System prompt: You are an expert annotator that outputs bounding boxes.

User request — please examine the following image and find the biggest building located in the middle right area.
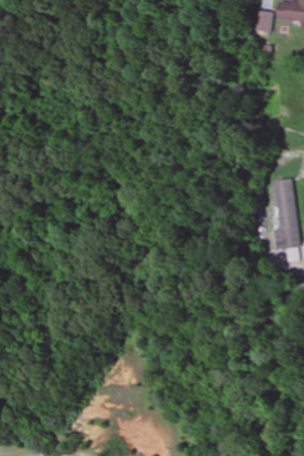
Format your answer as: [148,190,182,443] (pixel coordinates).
[272,178,298,246]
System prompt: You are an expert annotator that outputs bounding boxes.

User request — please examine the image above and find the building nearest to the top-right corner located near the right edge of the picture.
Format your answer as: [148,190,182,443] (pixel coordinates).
[275,0,304,24]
